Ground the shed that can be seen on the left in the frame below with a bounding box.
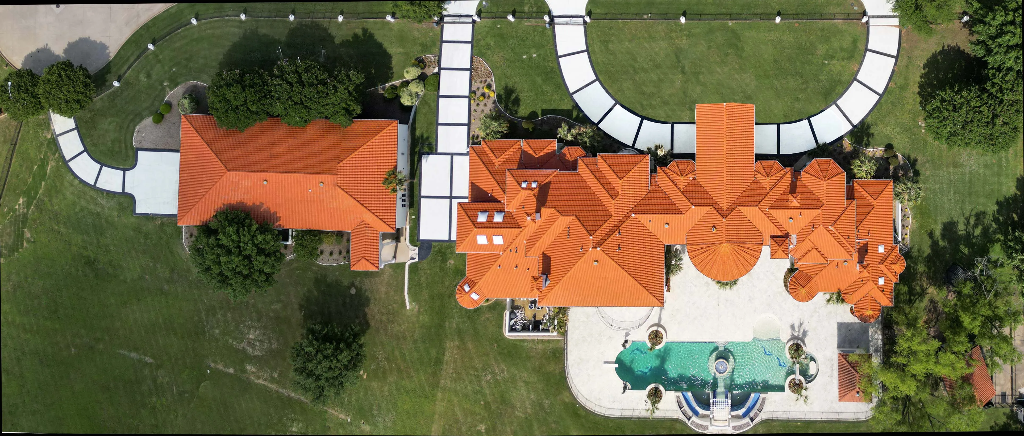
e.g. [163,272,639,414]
[176,114,404,271]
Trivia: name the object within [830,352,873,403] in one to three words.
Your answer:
building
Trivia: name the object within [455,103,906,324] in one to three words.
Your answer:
house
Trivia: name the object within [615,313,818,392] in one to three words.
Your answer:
swimming pool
